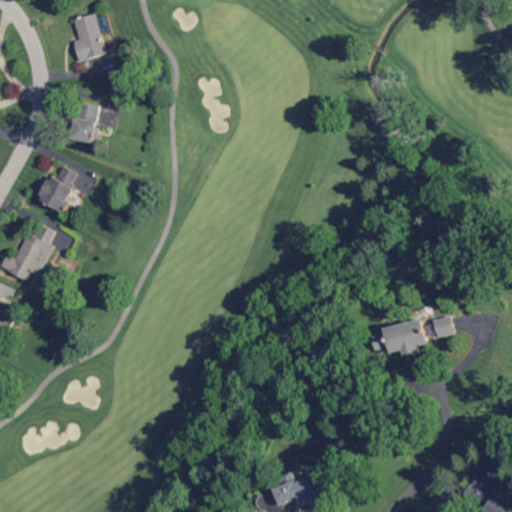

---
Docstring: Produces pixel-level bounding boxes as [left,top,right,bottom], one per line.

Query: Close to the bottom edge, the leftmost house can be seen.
[268,474,308,508]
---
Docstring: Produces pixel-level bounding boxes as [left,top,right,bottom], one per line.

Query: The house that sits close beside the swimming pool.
[72,14,104,60]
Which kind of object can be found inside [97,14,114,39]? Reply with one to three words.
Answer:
swimming pool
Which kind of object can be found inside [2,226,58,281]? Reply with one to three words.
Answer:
house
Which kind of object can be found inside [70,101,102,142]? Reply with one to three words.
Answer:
house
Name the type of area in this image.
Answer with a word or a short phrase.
golf course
